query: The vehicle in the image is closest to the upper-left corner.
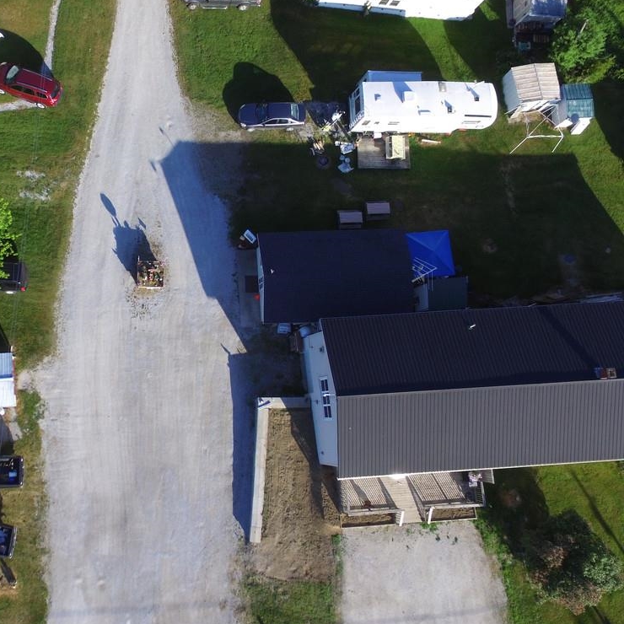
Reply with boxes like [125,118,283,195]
[0,60,66,111]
